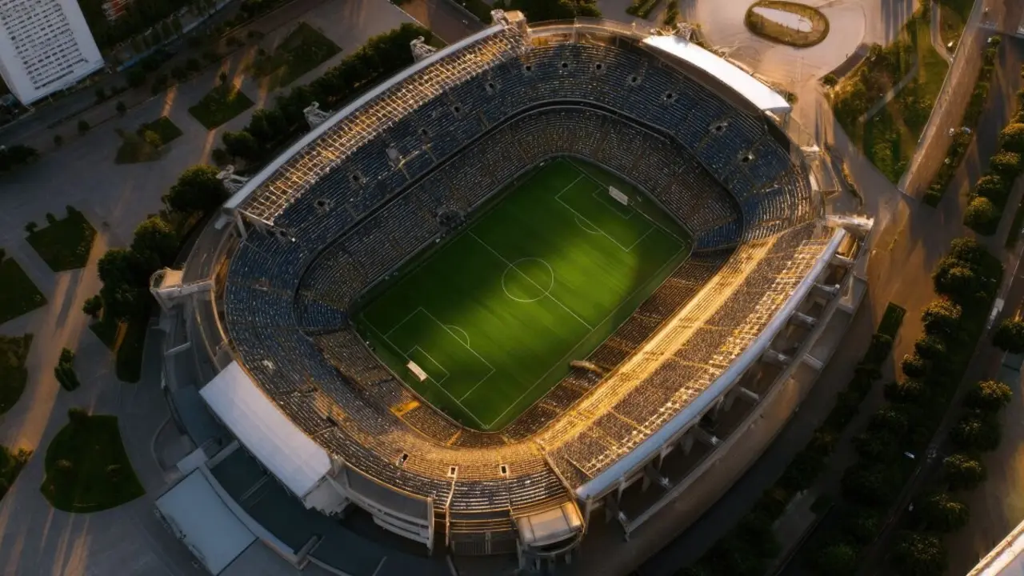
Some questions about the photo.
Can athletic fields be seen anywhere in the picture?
Yes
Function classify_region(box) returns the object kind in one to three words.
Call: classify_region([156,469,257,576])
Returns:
building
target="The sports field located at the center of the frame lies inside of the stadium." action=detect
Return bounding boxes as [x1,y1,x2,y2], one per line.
[352,154,694,431]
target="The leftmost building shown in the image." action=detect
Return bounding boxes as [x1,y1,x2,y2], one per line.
[0,0,102,106]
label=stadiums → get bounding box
[150,7,876,576]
